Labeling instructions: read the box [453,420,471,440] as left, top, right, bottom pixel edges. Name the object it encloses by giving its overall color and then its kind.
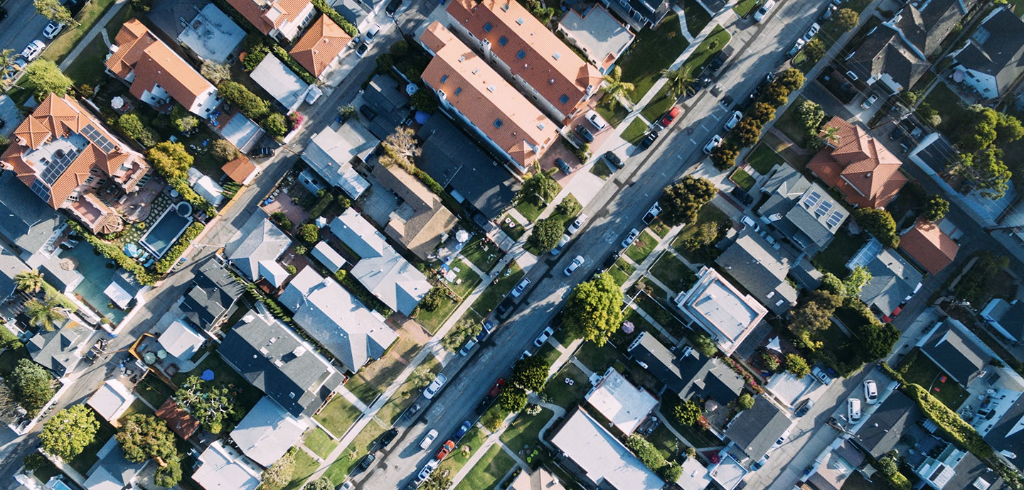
blue car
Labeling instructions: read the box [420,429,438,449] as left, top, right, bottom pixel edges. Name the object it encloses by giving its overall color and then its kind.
white car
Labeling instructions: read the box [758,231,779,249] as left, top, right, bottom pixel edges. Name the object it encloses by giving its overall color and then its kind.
blue car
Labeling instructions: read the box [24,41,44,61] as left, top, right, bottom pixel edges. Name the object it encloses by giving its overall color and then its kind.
white car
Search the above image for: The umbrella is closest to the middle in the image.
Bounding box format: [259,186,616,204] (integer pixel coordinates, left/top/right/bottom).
[455,229,470,243]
